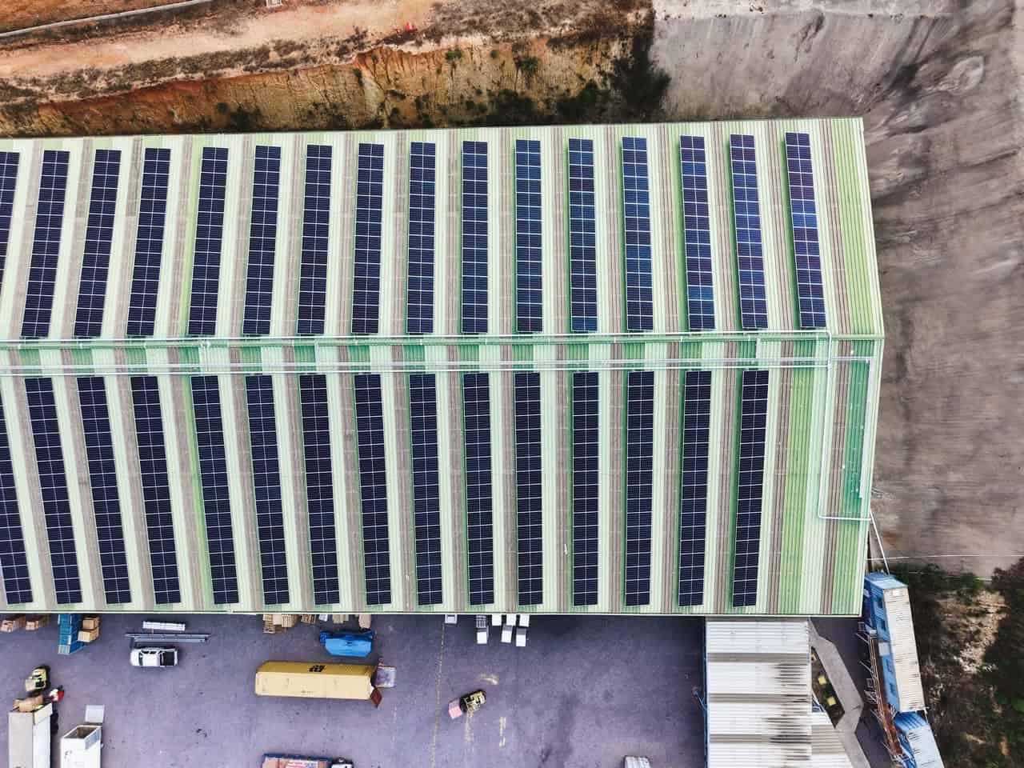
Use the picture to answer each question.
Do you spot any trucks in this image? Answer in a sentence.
Yes, there's a truck down there.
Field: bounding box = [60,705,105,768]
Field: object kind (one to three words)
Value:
truck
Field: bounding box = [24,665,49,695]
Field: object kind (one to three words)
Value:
work vehicle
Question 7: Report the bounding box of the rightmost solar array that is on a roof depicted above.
[784,133,827,330]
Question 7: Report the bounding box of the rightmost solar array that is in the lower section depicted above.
[731,369,770,606]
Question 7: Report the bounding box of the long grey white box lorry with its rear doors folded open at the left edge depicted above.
[8,700,61,768]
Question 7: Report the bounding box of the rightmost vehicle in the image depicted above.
[459,691,486,719]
